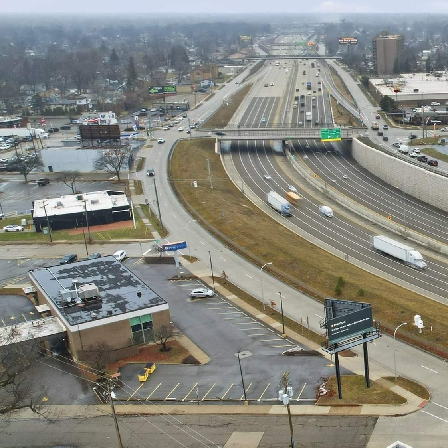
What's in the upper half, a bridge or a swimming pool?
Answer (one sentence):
The feature located in the upper half is a bridge.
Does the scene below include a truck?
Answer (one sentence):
Yes, the image includes a truck.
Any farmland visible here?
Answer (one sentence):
No, the picture contains no farmland.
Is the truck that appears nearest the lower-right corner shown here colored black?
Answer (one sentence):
No, from above the truck that appears nearest the lower-right corner looks white.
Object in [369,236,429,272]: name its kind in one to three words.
truck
